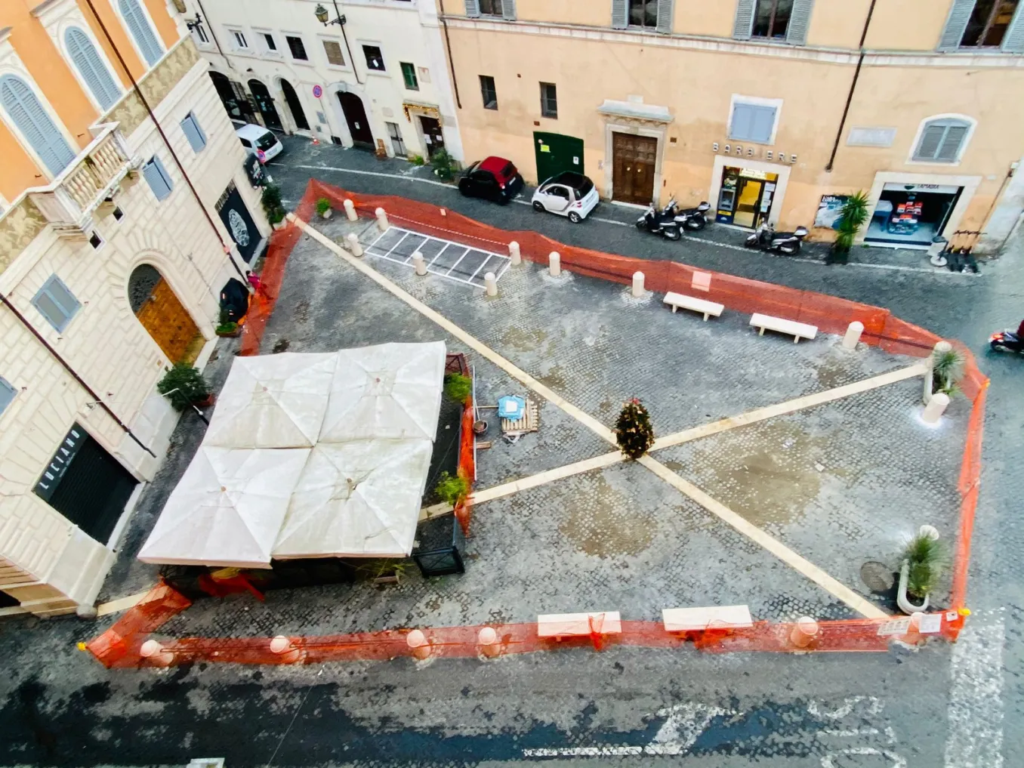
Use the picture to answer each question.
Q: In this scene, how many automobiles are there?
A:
3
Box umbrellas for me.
[137,446,317,564]
[316,341,447,447]
[272,441,436,565]
[204,352,337,449]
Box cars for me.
[530,163,605,225]
[230,113,278,163]
[445,155,520,209]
